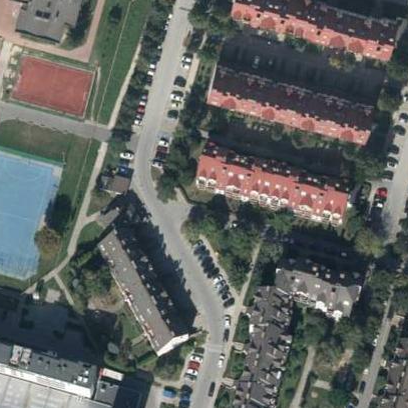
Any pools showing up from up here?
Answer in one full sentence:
No, the frame has no pool in it.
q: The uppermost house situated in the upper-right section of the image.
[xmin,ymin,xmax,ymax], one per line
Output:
[232,0,397,64]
